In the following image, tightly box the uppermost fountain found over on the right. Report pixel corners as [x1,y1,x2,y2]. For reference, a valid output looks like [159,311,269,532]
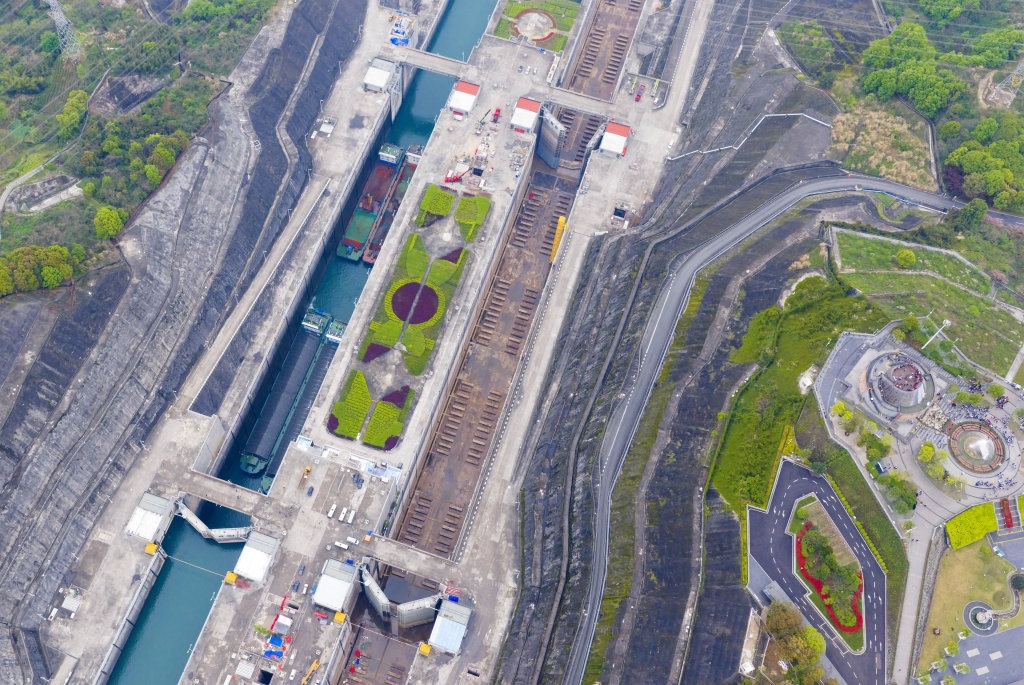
[946,417,1010,478]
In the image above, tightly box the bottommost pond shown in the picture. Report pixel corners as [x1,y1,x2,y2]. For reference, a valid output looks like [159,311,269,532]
[959,594,1005,641]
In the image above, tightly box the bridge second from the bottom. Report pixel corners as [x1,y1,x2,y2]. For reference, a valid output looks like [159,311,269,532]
[177,468,268,518]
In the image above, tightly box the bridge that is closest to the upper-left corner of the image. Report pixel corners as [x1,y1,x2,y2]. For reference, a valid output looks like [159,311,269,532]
[398,46,468,82]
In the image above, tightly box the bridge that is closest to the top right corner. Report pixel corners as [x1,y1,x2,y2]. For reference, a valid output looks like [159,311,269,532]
[545,85,614,120]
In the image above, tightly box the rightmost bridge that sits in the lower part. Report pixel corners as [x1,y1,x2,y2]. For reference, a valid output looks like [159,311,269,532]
[366,529,457,580]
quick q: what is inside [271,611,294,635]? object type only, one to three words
shed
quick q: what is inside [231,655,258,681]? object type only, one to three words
shed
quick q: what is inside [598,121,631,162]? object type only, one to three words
building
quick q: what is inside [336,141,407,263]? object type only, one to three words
ship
